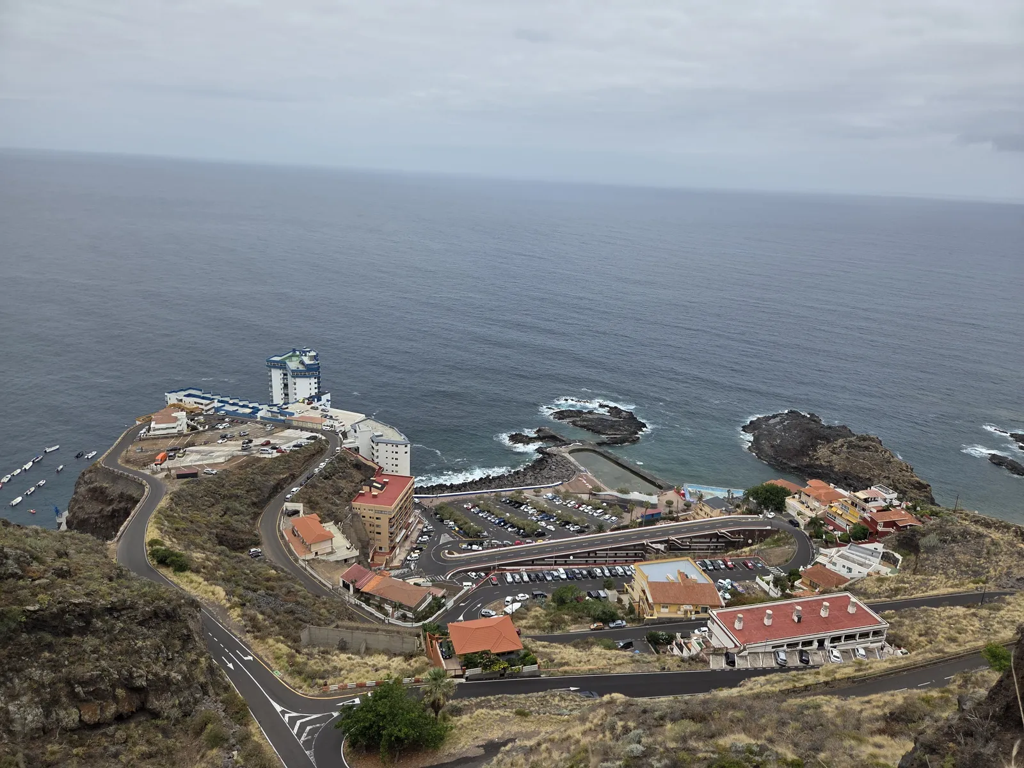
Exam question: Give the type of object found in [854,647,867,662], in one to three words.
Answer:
vehicle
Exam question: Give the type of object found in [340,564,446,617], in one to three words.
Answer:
house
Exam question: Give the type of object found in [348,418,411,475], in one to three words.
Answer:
building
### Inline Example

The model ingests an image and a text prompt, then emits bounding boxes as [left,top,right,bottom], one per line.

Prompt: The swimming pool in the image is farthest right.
[683,481,746,501]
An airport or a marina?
marina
